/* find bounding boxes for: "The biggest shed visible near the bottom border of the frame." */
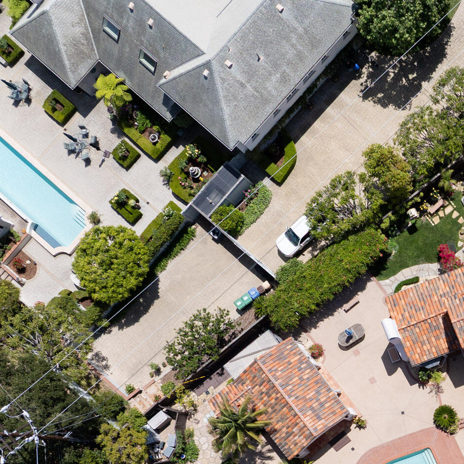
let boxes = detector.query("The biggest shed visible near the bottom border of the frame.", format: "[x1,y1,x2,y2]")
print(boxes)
[207,337,364,459]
